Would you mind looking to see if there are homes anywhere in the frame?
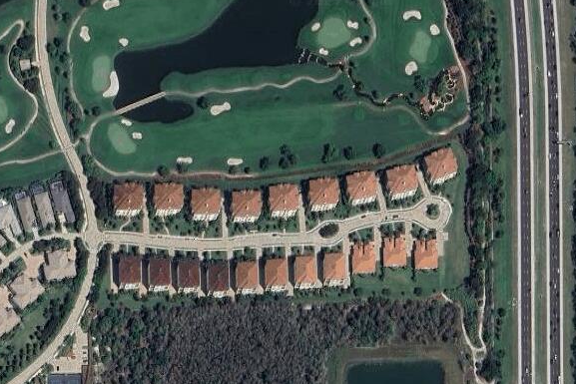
Yes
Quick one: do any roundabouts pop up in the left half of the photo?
No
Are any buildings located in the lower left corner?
Yes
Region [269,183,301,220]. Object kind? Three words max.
house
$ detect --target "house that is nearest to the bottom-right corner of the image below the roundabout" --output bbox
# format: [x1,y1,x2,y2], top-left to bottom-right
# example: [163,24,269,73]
[415,240,437,272]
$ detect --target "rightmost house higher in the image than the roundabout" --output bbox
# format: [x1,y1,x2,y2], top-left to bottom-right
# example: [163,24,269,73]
[424,146,459,187]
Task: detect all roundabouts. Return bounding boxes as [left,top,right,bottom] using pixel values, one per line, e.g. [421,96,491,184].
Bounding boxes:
[417,195,451,230]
